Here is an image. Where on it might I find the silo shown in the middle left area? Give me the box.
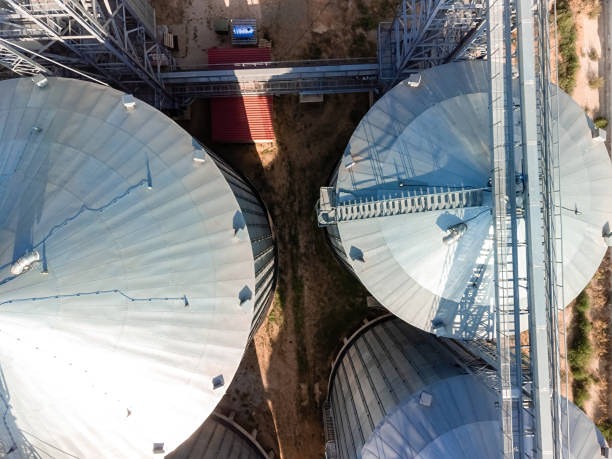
[0,78,278,459]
